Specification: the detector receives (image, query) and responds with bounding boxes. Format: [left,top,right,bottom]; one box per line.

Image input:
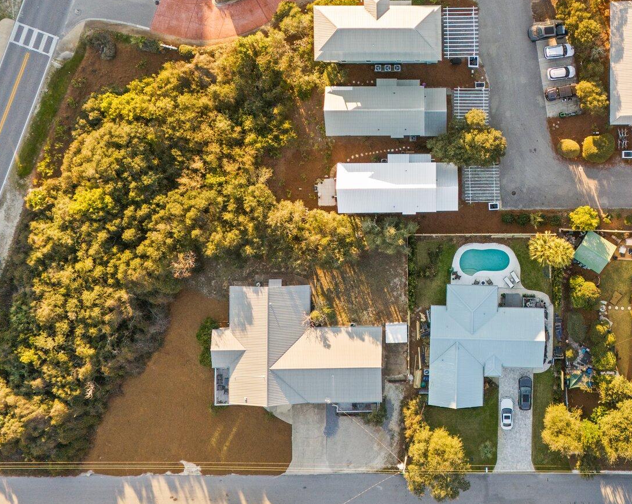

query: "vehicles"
[543,85,576,100]
[517,375,534,410]
[499,396,514,430]
[545,65,576,80]
[528,23,568,39]
[543,43,575,59]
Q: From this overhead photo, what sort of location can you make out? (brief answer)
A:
residential area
